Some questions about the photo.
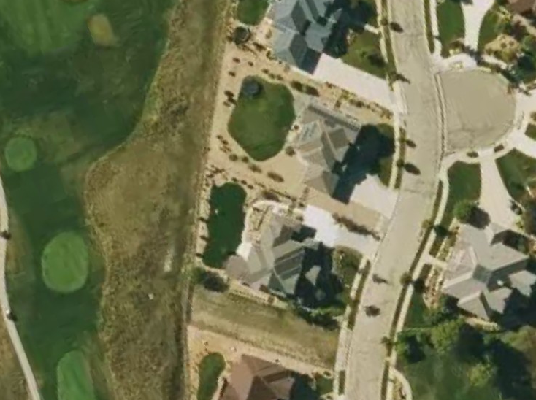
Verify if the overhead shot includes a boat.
No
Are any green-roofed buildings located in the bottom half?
No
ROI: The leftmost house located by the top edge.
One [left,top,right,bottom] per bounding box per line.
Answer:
[263,0,346,76]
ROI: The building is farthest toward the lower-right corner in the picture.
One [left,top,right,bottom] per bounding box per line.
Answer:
[444,218,536,327]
